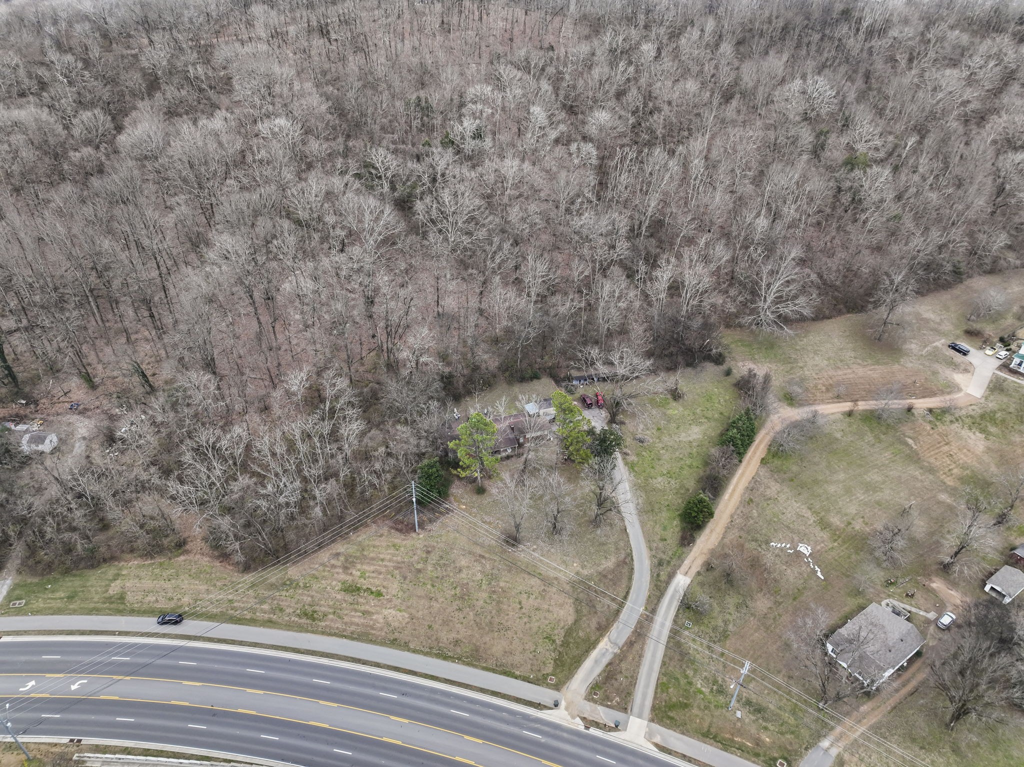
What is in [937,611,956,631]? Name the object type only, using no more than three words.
car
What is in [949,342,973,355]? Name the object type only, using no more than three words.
vehicle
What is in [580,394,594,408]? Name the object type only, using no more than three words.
car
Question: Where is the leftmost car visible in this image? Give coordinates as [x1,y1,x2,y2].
[156,612,184,625]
